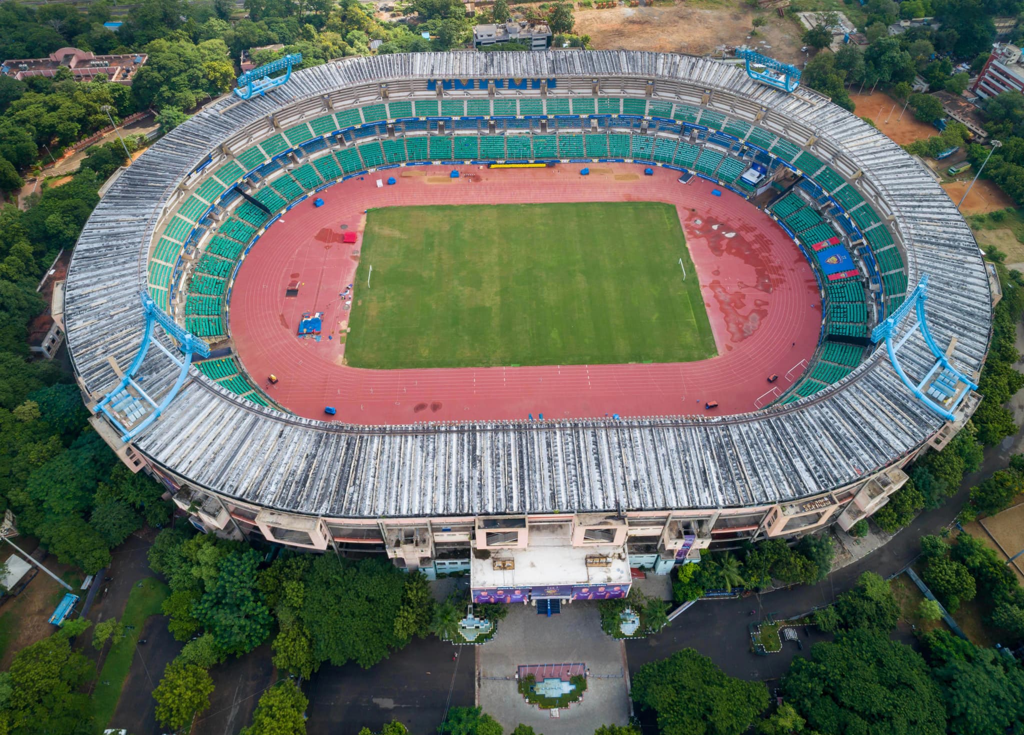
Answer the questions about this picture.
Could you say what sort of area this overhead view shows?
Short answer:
sports ground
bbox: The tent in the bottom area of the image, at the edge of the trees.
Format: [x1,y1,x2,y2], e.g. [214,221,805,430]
[0,554,39,596]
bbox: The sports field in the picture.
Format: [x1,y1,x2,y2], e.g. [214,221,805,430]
[345,199,717,369]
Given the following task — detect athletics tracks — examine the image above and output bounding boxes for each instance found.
[228,164,824,425]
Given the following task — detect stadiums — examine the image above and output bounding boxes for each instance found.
[45,45,1007,588]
